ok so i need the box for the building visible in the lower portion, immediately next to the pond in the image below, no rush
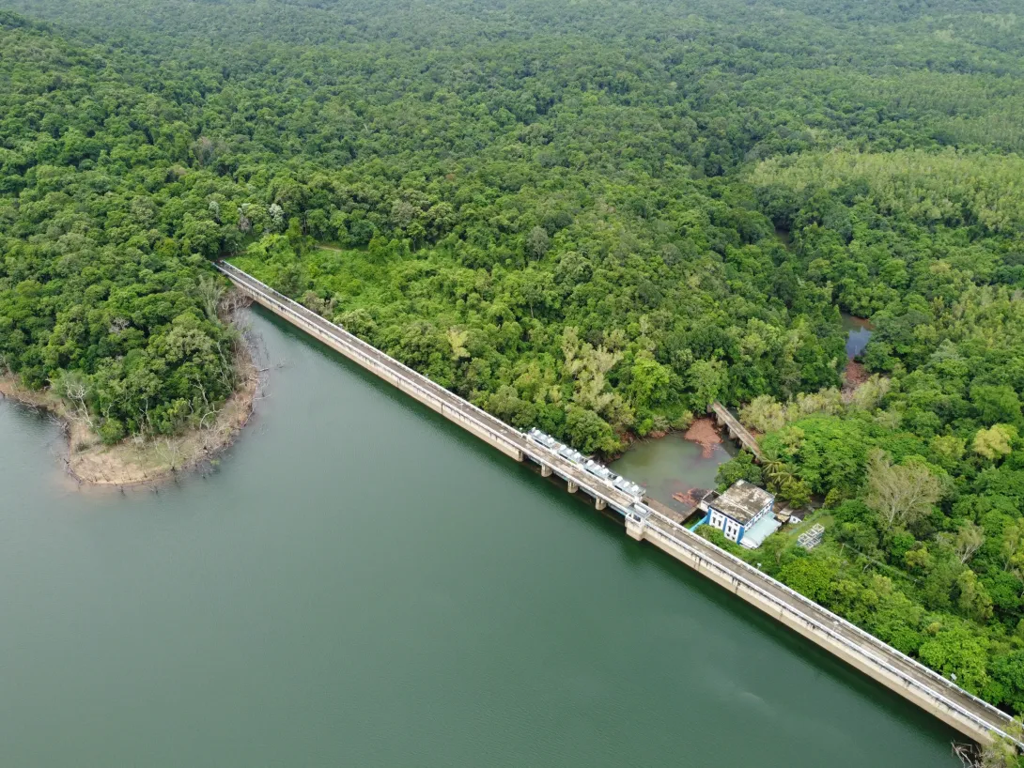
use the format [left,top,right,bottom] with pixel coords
[694,476,786,551]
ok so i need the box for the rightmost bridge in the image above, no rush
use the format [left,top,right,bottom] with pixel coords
[705,399,766,461]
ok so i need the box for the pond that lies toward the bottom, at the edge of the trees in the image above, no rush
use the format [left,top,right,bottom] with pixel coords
[602,423,744,519]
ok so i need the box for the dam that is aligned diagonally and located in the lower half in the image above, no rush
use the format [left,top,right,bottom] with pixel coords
[201,252,1024,752]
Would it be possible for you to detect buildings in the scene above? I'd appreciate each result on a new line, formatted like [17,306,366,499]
[790,507,804,524]
[694,476,786,551]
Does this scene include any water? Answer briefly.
Yes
